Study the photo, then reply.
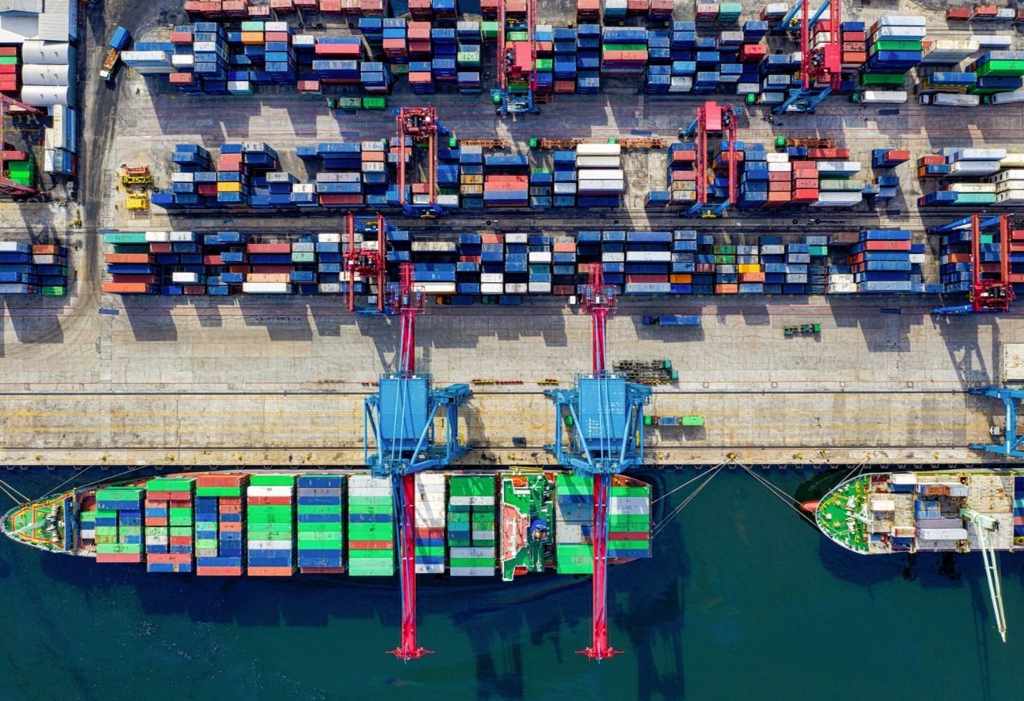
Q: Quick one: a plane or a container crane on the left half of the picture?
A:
container crane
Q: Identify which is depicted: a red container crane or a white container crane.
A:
red container crane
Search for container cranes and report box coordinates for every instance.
[923,214,1017,321]
[490,0,542,113]
[969,390,1024,460]
[673,99,741,225]
[768,0,844,114]
[0,90,51,201]
[341,214,405,319]
[394,105,454,224]
[533,263,648,665]
[364,263,478,665]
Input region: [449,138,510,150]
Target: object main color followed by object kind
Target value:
green vehicle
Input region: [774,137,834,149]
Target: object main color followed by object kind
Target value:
green vehicle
